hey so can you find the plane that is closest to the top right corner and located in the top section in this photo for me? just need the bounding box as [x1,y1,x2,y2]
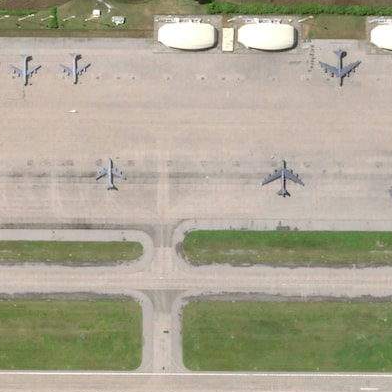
[322,48,363,85]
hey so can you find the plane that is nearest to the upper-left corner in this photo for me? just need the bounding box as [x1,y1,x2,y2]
[12,54,42,85]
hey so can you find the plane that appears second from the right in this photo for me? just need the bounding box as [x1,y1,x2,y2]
[265,160,306,196]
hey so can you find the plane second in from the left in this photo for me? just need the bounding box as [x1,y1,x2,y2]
[61,53,92,84]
